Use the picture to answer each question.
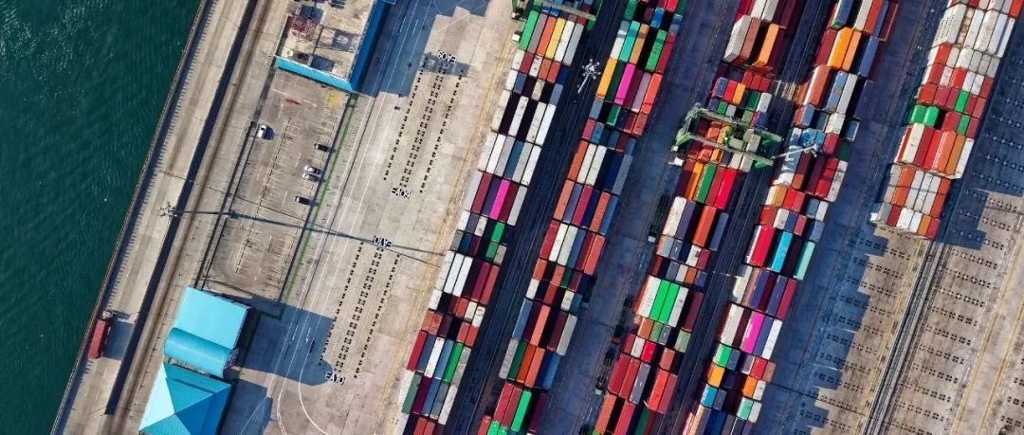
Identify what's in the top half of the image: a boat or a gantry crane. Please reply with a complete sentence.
What appears in the top half of the image is a gantry crane.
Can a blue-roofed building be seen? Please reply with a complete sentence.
Yes, the image includes a blue-roofed building.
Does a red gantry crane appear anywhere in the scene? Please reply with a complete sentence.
No, no red gantry crane is visible in the view.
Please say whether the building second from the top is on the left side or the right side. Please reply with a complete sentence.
The building second from the top sits on the left side.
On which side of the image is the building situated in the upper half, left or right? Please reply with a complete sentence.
You can find the building situated in the upper half on the left side of the picture.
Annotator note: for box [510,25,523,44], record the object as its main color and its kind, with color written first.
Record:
white vehicle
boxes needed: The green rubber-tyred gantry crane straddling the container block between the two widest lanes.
[670,105,785,177]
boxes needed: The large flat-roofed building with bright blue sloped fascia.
[275,0,385,92]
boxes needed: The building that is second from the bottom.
[159,282,262,382]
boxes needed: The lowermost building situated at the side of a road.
[139,362,234,435]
